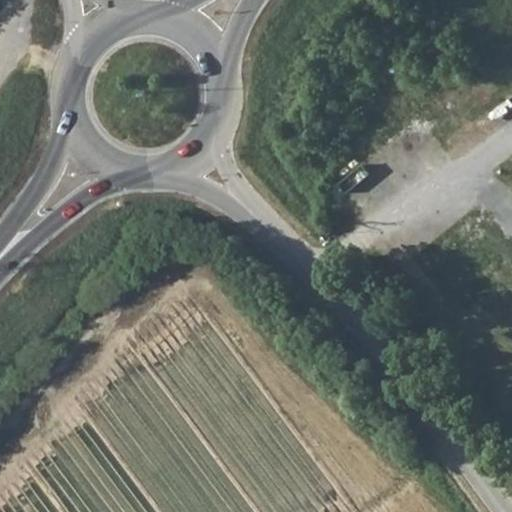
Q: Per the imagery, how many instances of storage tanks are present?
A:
zero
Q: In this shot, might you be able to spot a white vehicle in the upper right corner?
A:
Yes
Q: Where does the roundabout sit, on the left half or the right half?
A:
left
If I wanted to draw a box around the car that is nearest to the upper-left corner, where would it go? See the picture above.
[57,110,72,134]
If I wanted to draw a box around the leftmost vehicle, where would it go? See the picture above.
[2,258,20,274]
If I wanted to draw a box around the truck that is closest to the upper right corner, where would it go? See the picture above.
[488,92,512,118]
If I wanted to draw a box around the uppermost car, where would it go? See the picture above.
[197,52,210,74]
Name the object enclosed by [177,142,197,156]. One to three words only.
car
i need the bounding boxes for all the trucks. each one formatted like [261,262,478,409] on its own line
[488,92,512,118]
[336,163,370,193]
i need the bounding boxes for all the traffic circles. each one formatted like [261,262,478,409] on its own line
[51,0,242,192]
